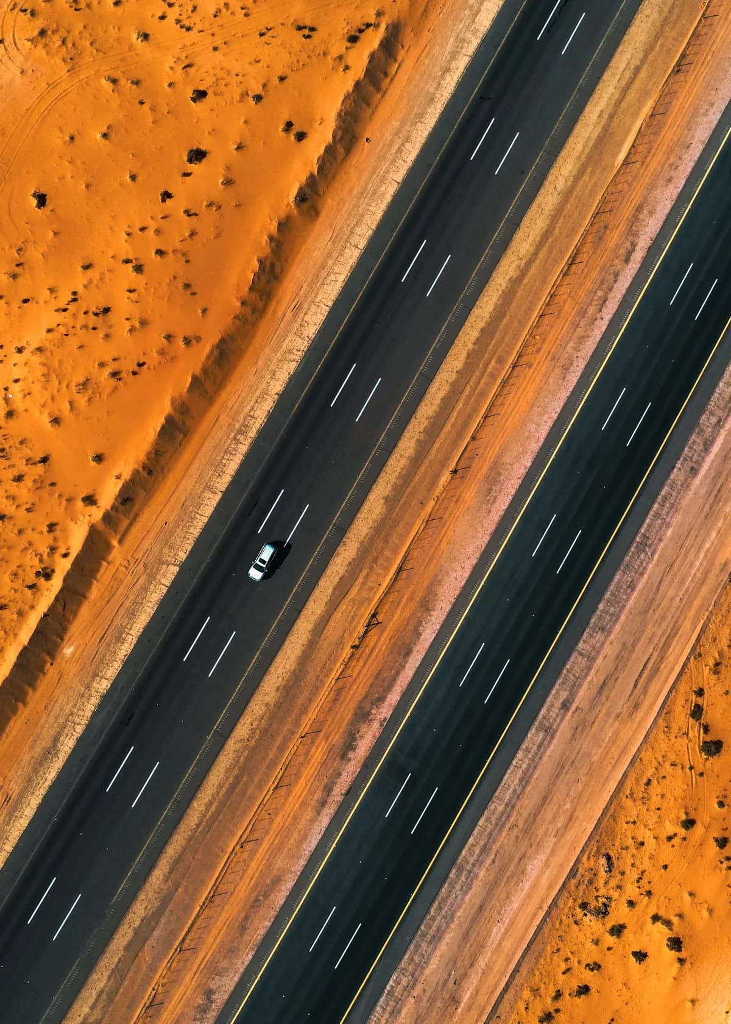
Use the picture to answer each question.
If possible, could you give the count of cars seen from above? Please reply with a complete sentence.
Just 1 car appears in this view.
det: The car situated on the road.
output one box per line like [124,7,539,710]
[246,541,276,581]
